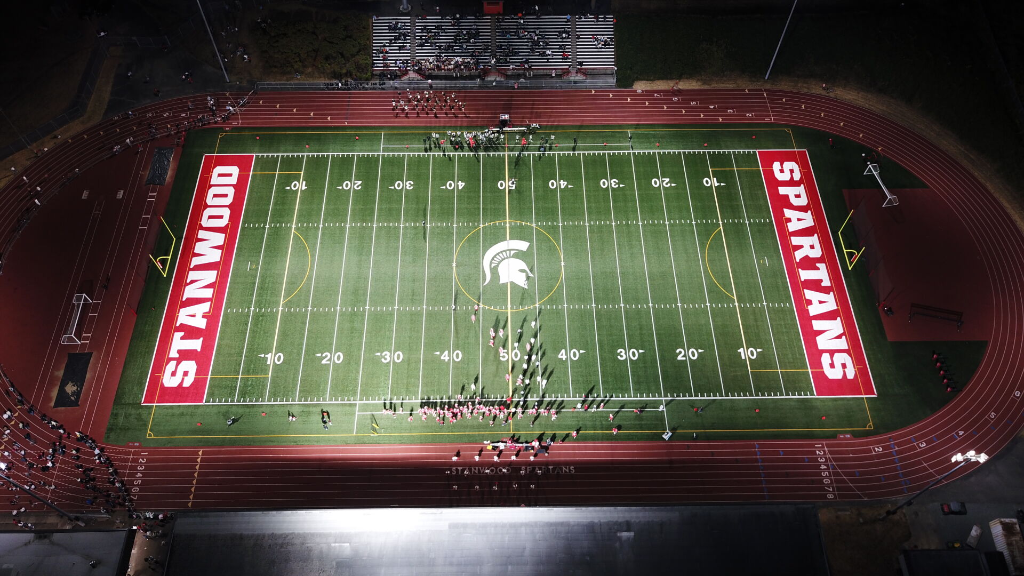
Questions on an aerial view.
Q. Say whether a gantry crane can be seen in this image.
No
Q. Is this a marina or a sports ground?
sports ground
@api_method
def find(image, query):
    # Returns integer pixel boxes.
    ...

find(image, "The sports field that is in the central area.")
[103,124,990,447]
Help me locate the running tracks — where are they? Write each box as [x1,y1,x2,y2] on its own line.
[0,88,1024,514]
